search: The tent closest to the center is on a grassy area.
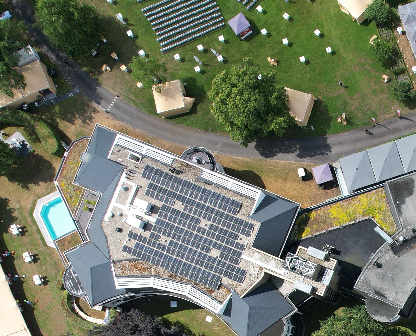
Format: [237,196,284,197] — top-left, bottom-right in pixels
[153,79,195,117]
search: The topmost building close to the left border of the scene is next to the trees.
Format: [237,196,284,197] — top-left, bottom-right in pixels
[11,46,41,67]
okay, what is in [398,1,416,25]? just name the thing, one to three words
umbrella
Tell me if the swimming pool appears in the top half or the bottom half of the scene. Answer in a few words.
bottom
